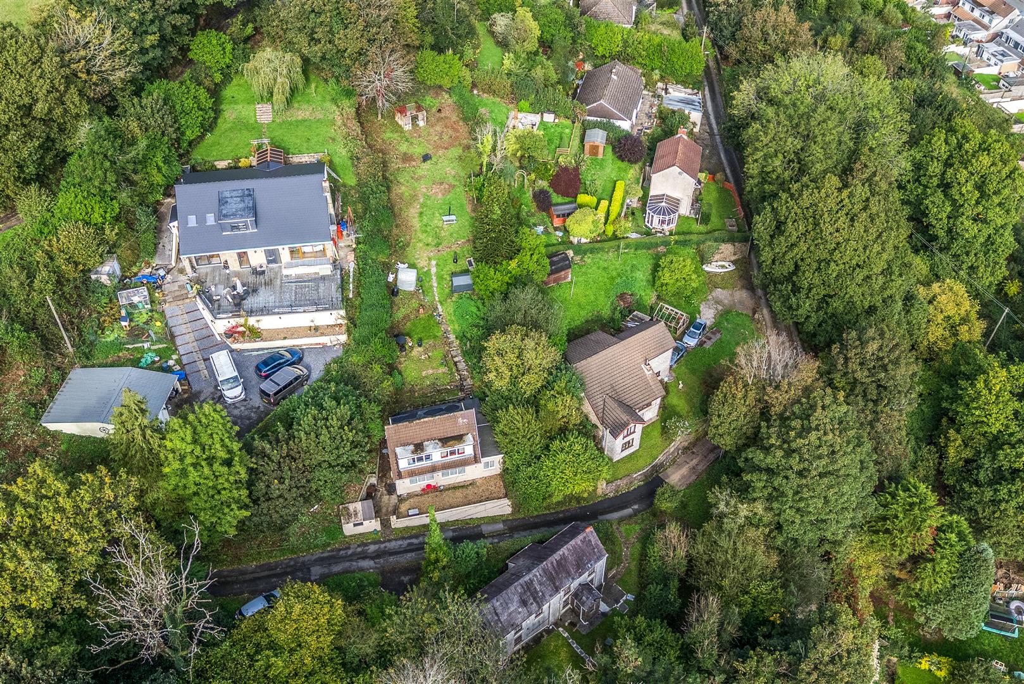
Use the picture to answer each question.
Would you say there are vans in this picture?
Yes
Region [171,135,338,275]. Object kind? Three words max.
house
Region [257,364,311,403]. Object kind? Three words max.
van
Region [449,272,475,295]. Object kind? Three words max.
shed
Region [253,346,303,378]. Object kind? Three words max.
car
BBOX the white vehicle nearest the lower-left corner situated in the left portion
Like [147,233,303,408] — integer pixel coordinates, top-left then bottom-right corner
[208,350,242,398]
